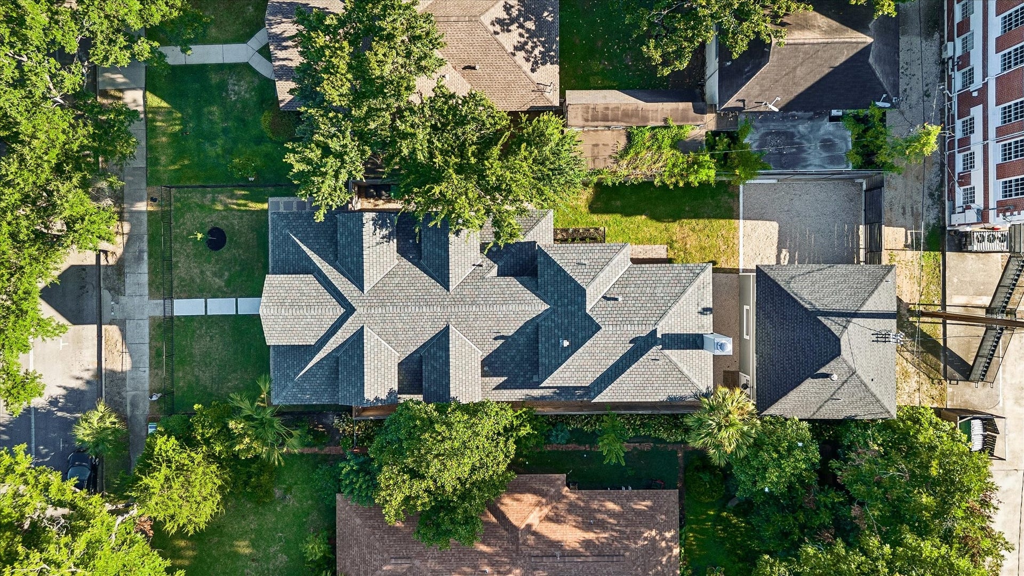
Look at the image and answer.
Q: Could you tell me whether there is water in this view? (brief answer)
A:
No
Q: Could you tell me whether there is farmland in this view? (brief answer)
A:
No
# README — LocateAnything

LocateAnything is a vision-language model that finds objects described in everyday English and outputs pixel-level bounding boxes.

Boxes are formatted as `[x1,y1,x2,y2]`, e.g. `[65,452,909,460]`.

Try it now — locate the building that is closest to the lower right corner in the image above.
[740,264,898,417]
